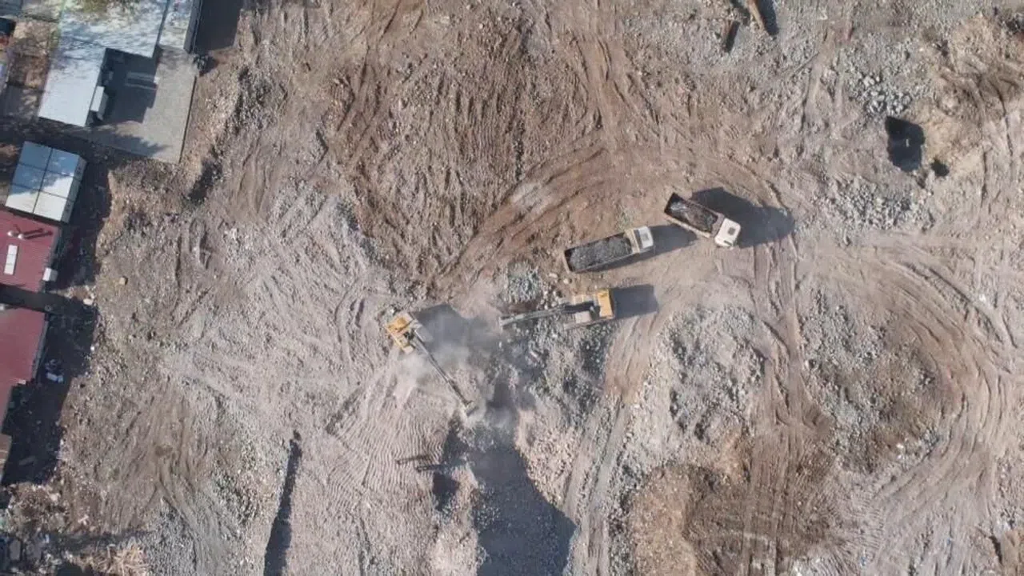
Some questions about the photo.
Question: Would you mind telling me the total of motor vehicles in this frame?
4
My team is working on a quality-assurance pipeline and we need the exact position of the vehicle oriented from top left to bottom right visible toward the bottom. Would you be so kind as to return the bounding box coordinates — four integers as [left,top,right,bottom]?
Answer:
[380,308,481,423]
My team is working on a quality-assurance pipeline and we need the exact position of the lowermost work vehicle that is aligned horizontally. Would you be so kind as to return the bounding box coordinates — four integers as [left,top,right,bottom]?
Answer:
[499,287,618,331]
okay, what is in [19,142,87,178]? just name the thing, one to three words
building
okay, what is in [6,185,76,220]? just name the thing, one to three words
building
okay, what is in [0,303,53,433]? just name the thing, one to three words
house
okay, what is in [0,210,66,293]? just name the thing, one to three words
house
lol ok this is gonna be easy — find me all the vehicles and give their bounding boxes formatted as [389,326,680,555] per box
[663,187,746,250]
[562,223,658,273]
[380,308,481,423]
[499,287,618,331]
